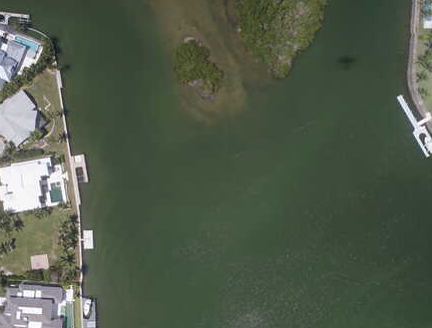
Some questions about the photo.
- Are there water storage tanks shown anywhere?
No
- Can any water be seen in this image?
Yes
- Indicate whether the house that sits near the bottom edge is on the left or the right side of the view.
left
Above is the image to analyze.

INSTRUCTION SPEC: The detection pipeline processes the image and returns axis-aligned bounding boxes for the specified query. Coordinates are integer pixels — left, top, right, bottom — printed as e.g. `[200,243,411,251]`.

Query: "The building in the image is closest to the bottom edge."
[0,283,65,328]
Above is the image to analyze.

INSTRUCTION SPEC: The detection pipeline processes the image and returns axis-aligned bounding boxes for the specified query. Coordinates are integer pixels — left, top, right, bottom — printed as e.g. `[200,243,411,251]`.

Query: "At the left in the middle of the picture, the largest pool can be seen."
[50,188,64,203]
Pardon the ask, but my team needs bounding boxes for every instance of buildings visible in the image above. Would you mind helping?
[0,89,47,154]
[0,283,65,328]
[0,158,54,213]
[0,30,33,85]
